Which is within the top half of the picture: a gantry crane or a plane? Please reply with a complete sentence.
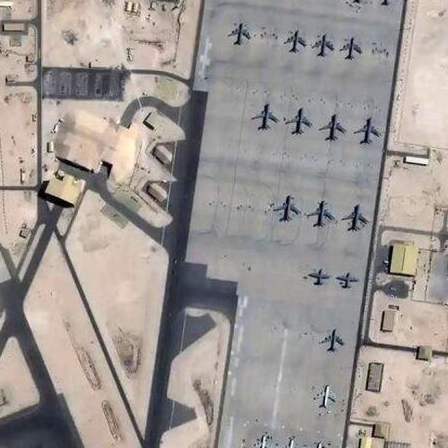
There is a plane within the top half of the picture.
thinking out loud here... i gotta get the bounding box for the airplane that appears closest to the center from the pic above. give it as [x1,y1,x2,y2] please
[274,195,299,222]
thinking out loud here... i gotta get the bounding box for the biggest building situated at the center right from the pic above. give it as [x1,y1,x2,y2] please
[389,245,418,276]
